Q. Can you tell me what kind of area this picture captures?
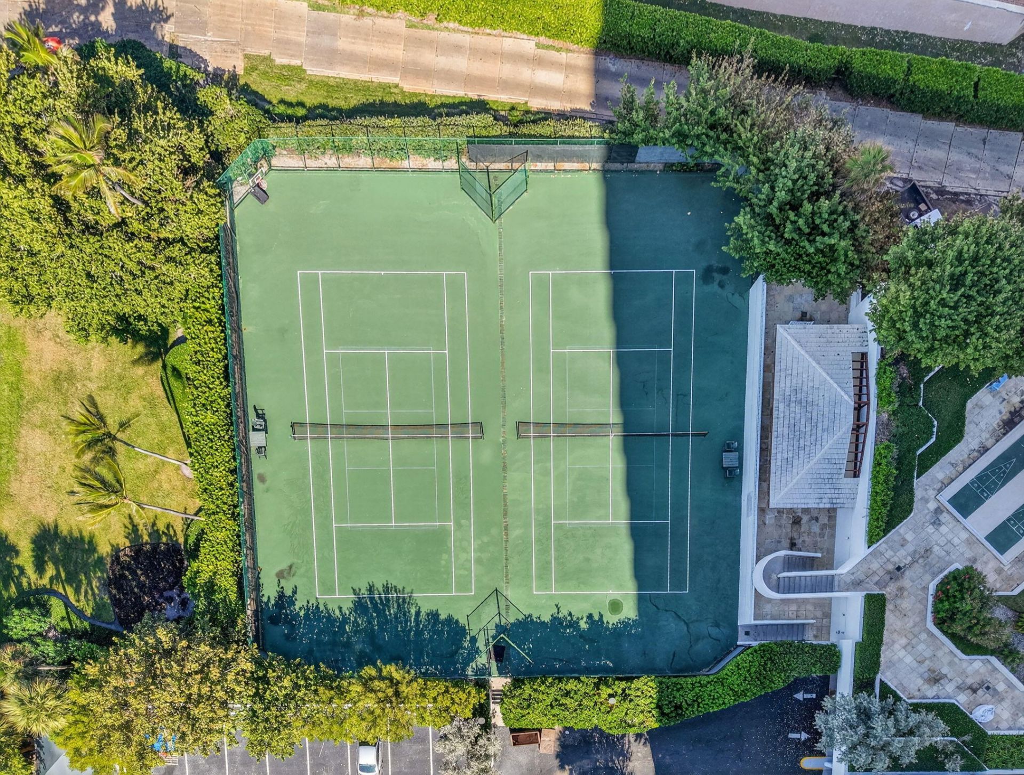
sports ground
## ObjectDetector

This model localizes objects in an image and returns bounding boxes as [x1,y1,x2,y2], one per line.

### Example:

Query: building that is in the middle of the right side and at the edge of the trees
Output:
[768,323,872,510]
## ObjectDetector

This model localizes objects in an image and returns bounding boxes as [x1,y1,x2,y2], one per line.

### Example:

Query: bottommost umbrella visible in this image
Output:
[971,704,1000,724]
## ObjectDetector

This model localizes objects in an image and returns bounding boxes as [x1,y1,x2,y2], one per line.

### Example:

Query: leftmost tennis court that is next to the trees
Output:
[234,170,510,683]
